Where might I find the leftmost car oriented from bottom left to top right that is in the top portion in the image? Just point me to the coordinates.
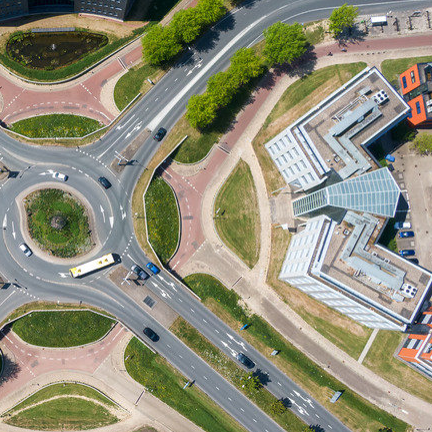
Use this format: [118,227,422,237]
[152,126,168,143]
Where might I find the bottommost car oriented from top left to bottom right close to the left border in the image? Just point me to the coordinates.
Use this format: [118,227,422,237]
[18,242,34,258]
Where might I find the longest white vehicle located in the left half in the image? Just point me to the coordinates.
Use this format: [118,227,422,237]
[69,251,120,279]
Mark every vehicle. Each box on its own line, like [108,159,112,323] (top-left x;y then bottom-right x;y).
[18,242,34,258]
[69,251,120,279]
[142,325,161,342]
[145,261,162,275]
[130,264,148,280]
[97,175,113,190]
[392,221,414,229]
[396,230,416,238]
[403,256,423,267]
[236,351,256,369]
[152,126,168,143]
[50,171,69,182]
[398,248,417,257]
